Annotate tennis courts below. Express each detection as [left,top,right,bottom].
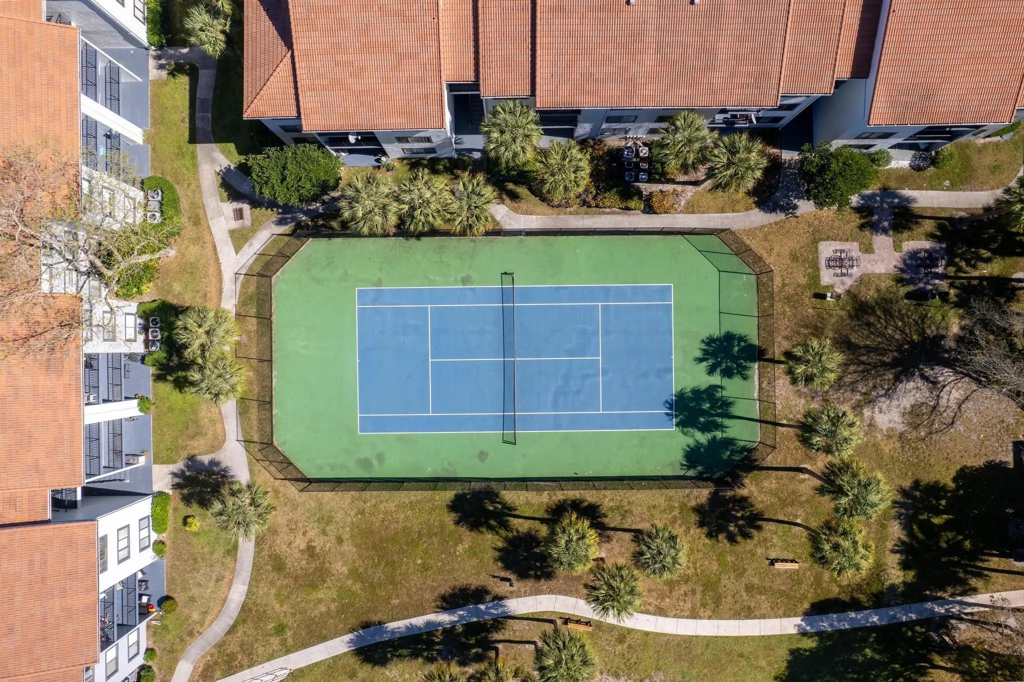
[271,234,761,480]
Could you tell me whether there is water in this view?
No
